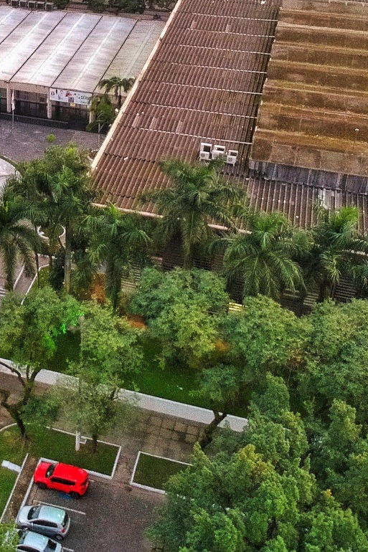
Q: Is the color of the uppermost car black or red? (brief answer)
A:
red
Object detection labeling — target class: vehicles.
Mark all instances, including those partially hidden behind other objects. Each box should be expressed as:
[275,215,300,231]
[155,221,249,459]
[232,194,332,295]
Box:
[34,461,91,499]
[6,533,69,552]
[16,503,72,541]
